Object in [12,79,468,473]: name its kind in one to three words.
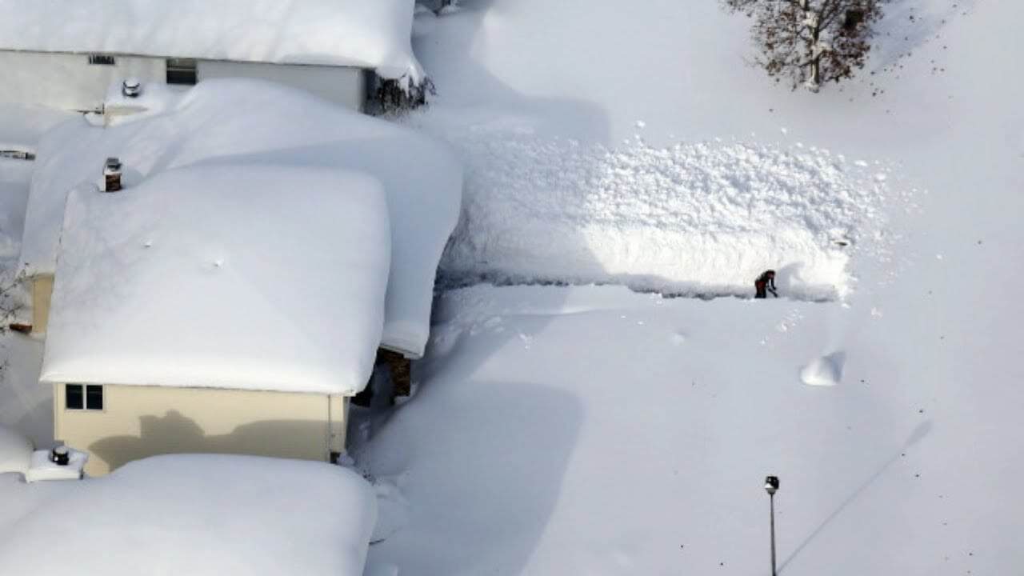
house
